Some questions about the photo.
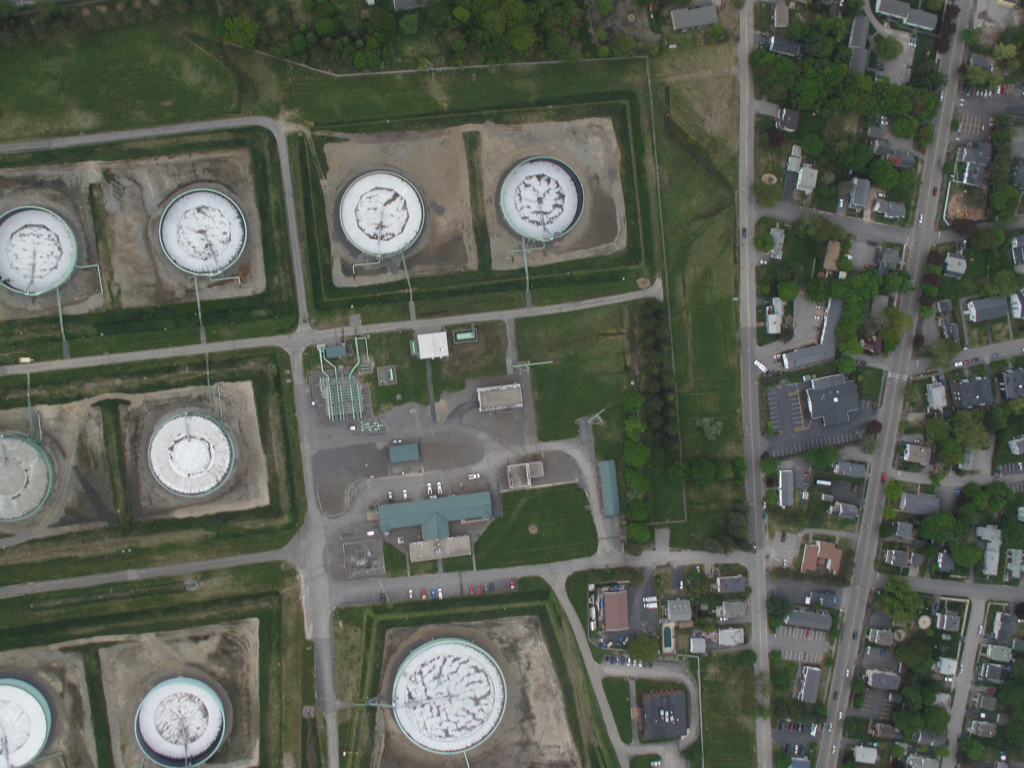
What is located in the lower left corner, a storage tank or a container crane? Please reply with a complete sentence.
The feature located in the lower left corner is a storage tank.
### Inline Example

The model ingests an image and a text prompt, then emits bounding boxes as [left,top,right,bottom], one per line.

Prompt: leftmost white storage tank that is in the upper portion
[0,205,87,298]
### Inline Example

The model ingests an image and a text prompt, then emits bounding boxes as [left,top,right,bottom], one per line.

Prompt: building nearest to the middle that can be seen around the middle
[476,382,523,411]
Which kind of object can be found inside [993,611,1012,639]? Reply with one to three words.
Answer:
house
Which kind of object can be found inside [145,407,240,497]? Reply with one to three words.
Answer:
storage tank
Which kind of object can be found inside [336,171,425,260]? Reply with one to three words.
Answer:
storage tank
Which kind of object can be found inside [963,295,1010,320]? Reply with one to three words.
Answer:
building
